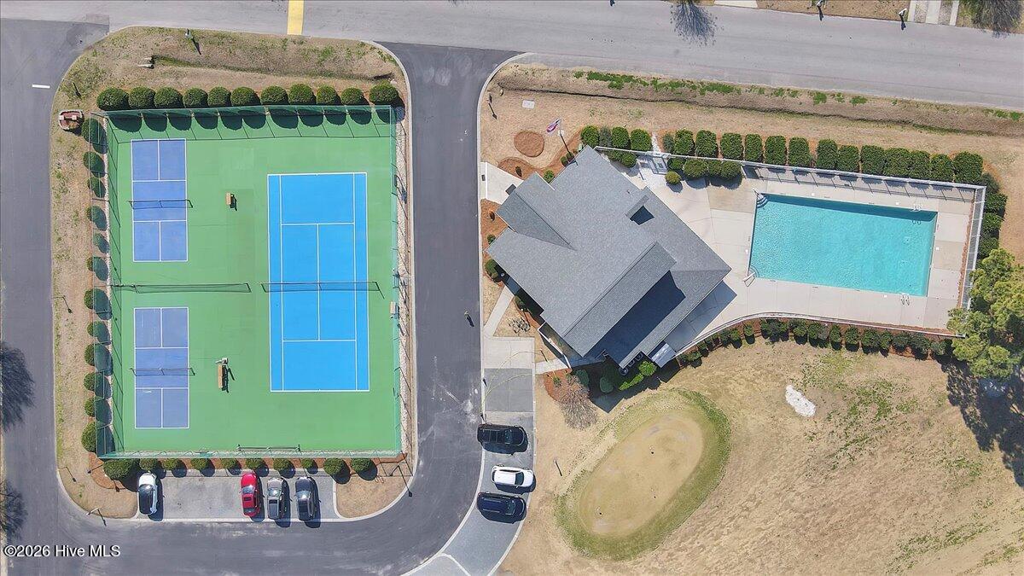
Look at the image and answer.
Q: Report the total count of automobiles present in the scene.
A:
7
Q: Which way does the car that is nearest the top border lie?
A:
from left to right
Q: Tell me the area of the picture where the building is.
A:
center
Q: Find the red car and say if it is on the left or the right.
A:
left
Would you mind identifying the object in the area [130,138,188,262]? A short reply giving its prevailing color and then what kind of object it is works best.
blue sports court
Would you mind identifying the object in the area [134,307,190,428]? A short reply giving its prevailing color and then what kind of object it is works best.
blue sports court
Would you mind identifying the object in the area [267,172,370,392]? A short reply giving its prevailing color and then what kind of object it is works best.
blue tennis court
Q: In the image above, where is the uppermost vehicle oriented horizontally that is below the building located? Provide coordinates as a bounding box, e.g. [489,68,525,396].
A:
[477,425,528,448]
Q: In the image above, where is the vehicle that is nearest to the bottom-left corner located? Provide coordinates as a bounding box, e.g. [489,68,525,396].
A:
[137,471,160,514]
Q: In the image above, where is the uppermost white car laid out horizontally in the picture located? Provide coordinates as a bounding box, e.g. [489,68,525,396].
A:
[491,466,534,488]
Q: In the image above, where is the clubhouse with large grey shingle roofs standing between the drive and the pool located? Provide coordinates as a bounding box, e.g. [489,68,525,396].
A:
[486,148,731,369]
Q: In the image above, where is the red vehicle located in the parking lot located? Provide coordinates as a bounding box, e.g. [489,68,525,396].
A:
[239,472,261,517]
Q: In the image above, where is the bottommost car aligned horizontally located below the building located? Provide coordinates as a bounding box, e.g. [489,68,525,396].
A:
[477,493,525,517]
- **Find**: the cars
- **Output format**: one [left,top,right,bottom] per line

[266,476,287,520]
[477,493,525,517]
[477,425,528,448]
[239,472,261,517]
[293,475,316,521]
[137,471,160,514]
[491,466,534,488]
